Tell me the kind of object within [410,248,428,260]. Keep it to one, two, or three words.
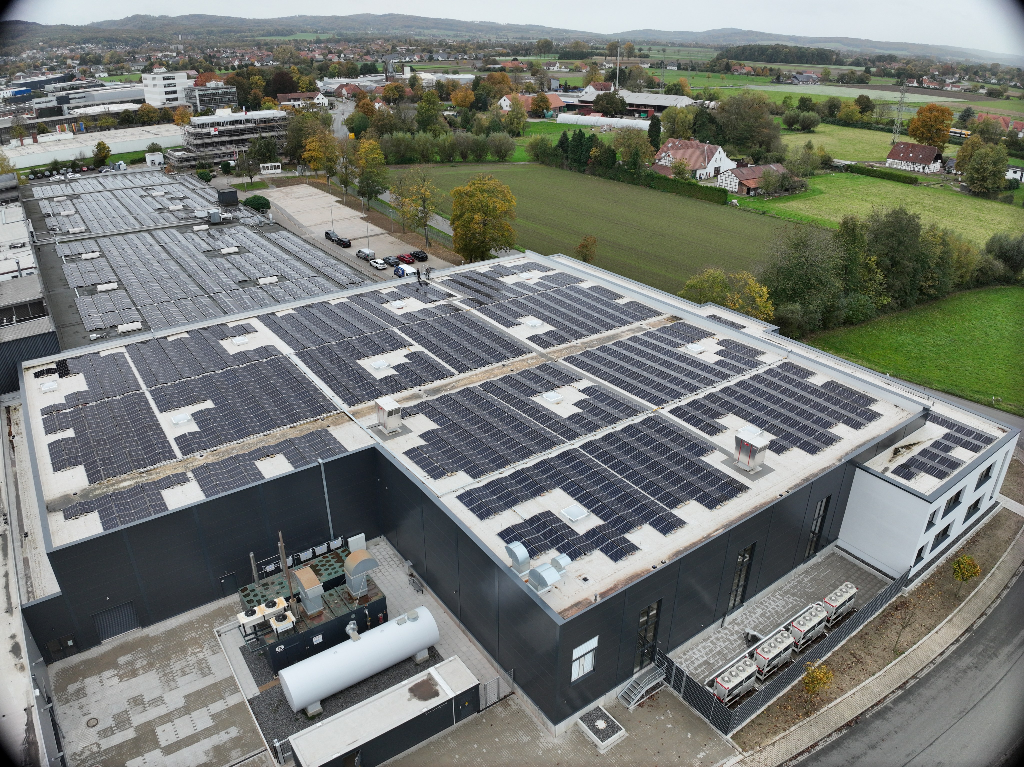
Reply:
vehicle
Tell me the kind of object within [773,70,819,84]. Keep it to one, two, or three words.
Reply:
house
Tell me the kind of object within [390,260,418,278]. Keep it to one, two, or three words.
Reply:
vehicle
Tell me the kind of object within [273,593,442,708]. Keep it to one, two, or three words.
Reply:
storage tank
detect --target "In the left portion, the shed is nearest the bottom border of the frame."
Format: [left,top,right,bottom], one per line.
[288,655,483,767]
